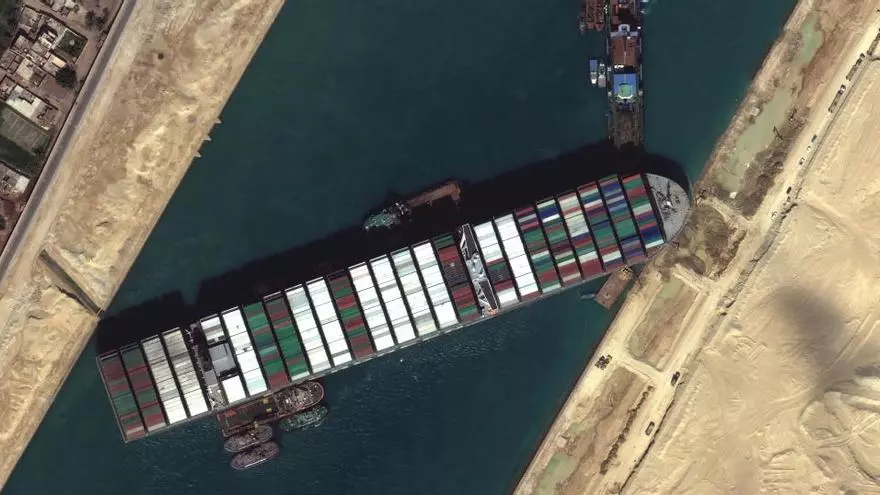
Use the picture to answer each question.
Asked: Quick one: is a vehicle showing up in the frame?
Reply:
Yes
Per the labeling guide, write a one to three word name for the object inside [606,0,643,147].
ship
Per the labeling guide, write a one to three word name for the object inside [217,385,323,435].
vessel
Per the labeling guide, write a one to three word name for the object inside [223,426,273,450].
boat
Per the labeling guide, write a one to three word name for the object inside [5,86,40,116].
house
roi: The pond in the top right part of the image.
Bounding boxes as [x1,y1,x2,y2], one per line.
[716,14,821,193]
